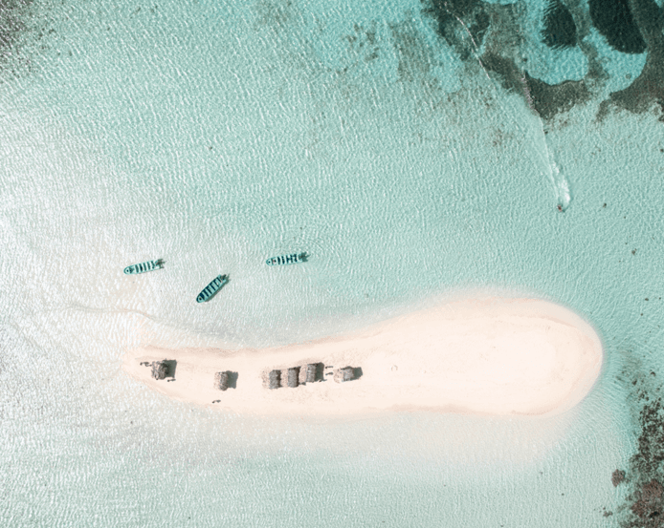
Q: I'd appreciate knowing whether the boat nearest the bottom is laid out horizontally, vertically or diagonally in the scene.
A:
diagonally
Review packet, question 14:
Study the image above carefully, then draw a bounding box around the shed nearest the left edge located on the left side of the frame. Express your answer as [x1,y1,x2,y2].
[149,359,170,380]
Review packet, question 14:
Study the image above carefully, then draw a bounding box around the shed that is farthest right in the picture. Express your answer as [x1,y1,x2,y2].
[331,366,358,383]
